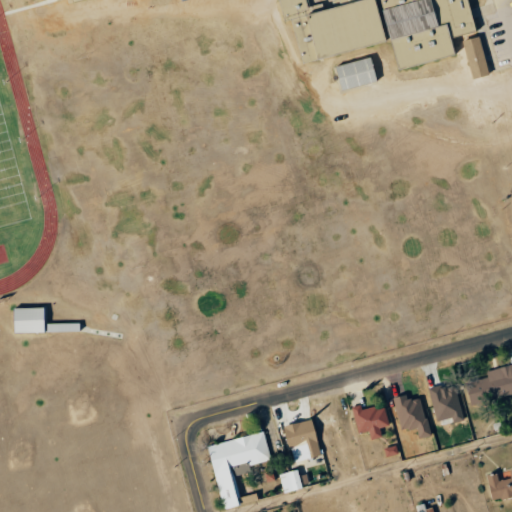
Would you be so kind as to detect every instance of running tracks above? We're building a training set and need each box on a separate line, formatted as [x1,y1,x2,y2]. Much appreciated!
[0,8,58,294]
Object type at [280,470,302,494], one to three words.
shed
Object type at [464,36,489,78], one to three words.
building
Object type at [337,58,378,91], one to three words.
shed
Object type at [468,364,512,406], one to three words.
house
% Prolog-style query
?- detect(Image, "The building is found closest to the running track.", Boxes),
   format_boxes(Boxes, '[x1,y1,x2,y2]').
[14,307,46,334]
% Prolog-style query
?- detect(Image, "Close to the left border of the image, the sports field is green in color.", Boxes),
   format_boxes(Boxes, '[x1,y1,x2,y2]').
[0,50,44,280]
